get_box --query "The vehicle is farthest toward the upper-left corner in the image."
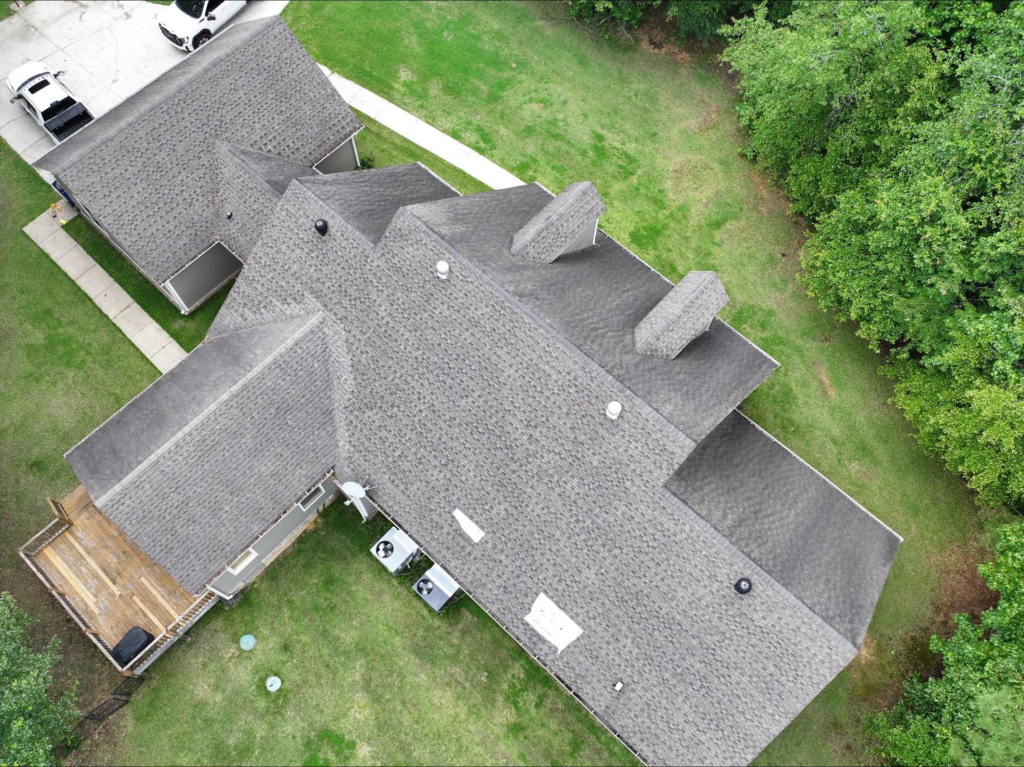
[4,62,94,145]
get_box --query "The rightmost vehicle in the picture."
[157,0,260,50]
